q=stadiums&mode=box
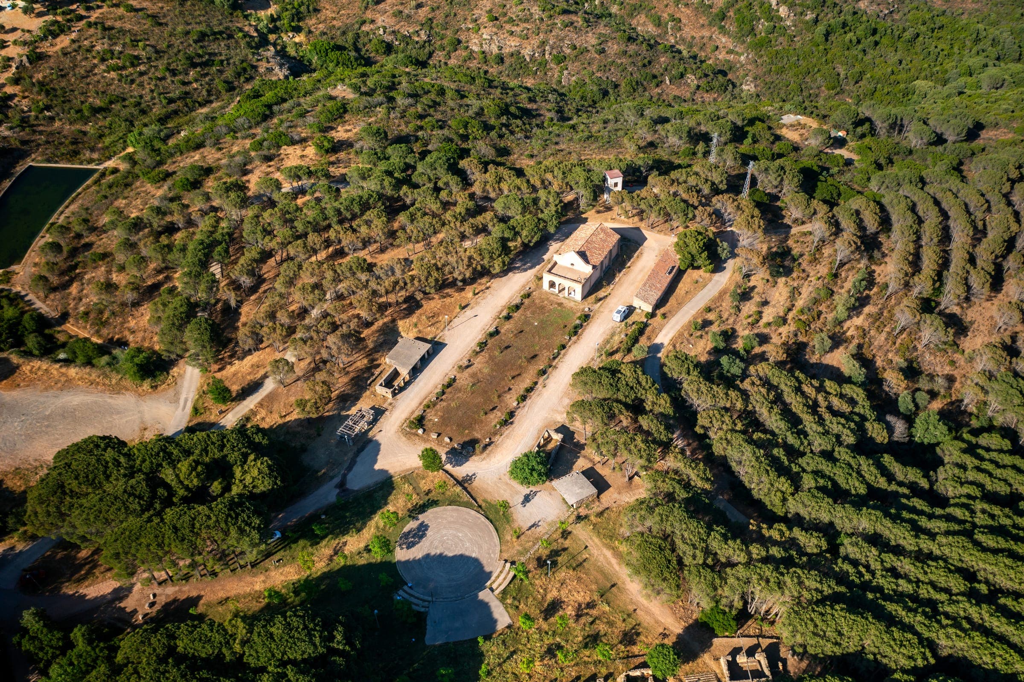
[391,505,513,645]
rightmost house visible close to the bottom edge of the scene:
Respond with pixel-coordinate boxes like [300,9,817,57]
[719,651,783,682]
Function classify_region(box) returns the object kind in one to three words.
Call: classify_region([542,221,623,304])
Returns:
building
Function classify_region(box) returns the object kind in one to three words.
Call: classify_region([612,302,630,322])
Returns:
vehicle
